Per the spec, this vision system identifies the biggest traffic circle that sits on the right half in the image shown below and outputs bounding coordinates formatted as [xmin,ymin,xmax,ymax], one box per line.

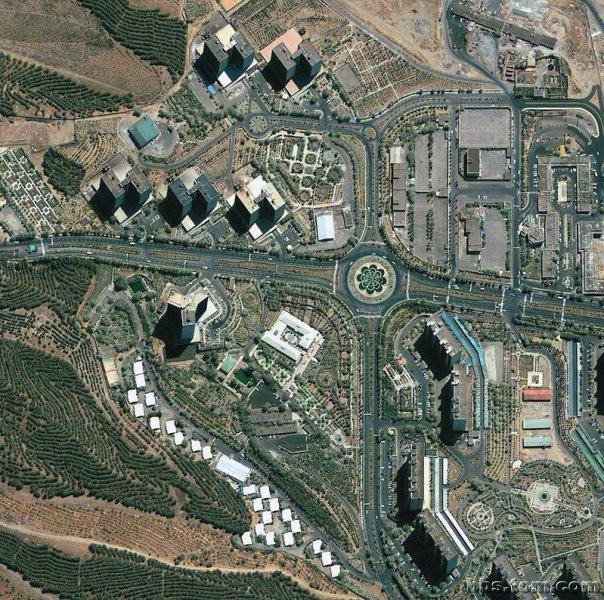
[347,256,396,303]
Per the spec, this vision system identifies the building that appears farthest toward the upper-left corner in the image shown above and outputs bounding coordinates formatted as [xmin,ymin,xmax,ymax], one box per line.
[127,114,160,151]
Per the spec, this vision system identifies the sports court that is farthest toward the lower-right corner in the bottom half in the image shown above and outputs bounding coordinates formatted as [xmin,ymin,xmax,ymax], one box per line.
[488,341,504,382]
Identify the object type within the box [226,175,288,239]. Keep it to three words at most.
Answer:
building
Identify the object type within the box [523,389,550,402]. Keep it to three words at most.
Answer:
shed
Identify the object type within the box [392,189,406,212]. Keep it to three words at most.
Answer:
building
